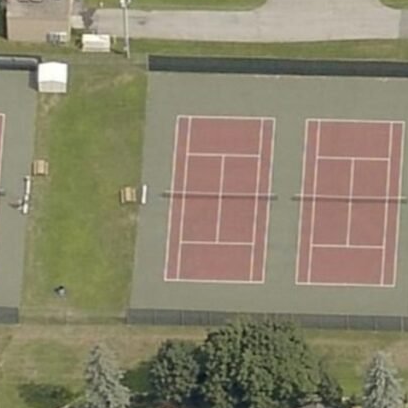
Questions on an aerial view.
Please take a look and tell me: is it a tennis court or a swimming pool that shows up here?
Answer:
tennis court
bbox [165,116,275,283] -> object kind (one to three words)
tennis court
